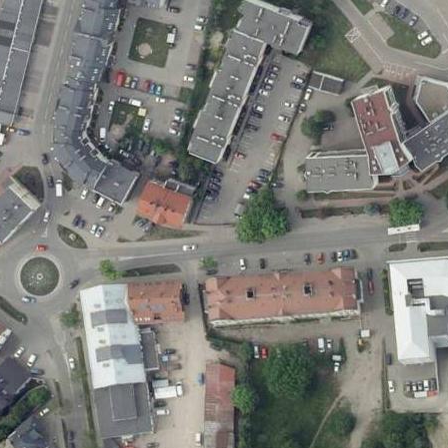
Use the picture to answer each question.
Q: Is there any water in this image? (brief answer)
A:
No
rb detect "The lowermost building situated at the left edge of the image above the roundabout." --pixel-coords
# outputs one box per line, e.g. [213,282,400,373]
[0,187,38,247]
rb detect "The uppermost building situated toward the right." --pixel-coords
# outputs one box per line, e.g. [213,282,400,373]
[237,0,317,60]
